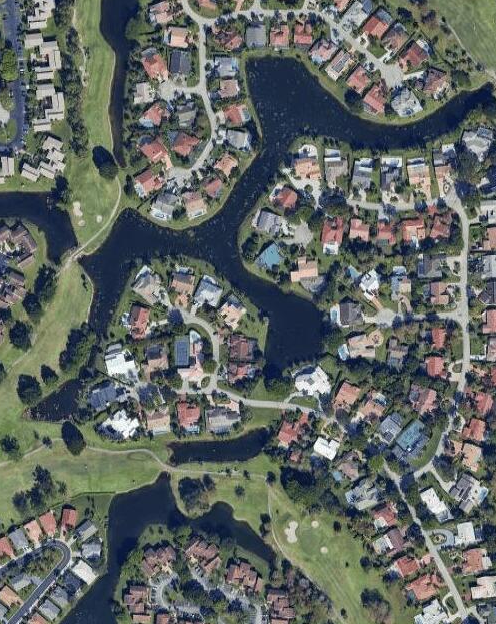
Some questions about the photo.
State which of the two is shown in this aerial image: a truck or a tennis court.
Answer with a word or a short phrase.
tennis court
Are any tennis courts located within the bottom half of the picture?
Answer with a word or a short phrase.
Yes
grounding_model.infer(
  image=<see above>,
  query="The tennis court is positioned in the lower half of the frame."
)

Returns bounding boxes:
[397,419,424,450]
